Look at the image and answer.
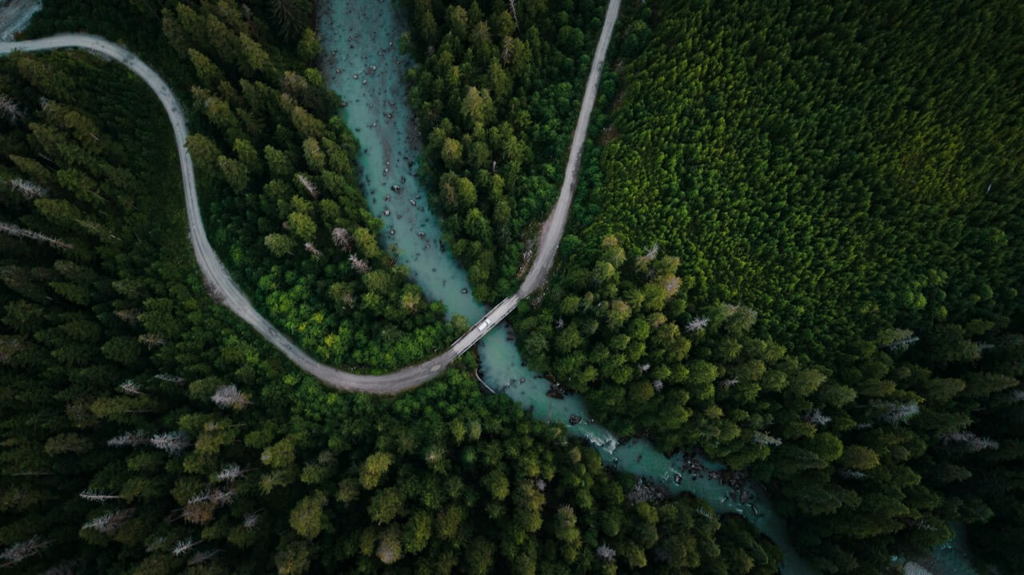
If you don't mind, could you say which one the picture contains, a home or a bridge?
bridge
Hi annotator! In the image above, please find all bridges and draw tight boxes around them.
[449,291,526,359]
